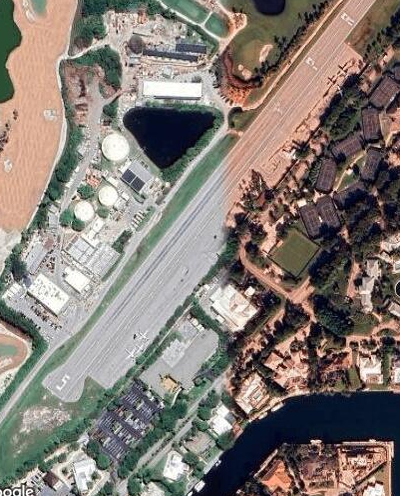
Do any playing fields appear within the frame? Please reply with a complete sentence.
Yes, a playing field is visible in the scene.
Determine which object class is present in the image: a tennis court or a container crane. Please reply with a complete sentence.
This aerial view contains a tennis court.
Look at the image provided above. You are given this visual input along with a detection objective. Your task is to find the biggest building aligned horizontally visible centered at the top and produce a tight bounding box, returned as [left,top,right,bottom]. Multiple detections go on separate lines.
[141,80,201,98]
